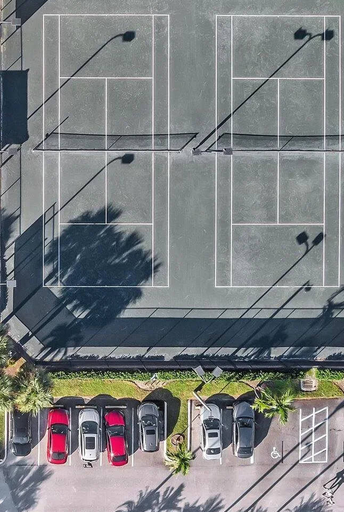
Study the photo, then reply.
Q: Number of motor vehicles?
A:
7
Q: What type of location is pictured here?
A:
sports ground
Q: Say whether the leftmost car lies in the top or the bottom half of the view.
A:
bottom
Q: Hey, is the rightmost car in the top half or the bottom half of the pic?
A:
bottom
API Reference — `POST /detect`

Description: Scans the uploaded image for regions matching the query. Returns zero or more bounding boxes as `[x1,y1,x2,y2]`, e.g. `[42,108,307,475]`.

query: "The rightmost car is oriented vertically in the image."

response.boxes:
[230,399,258,458]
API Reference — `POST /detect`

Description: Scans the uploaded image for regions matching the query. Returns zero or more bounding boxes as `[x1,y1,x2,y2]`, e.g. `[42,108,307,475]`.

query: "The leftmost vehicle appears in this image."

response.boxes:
[9,398,35,456]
